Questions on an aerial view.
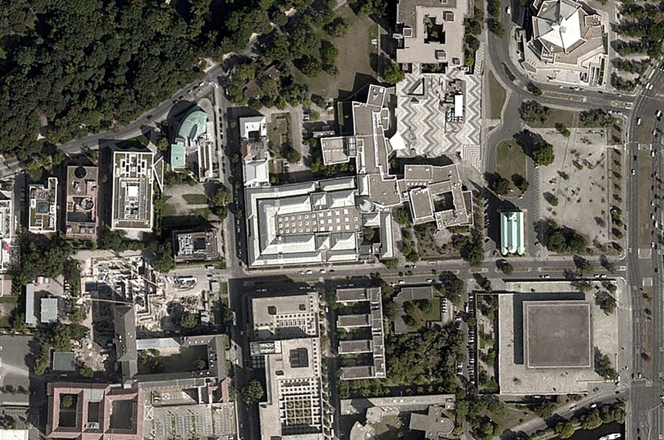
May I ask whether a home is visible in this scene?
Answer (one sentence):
Yes, there's a home down there.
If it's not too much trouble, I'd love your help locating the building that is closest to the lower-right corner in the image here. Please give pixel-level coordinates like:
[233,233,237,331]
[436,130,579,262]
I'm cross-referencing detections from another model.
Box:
[500,282,618,394]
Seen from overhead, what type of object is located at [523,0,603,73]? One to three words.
building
